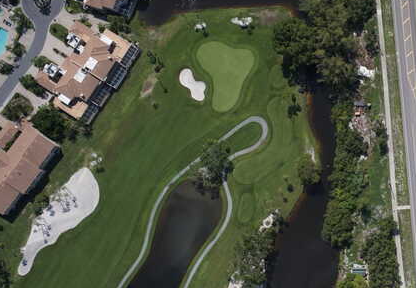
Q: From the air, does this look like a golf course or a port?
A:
golf course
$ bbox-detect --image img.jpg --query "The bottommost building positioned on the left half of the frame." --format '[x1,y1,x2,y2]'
[0,118,66,216]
